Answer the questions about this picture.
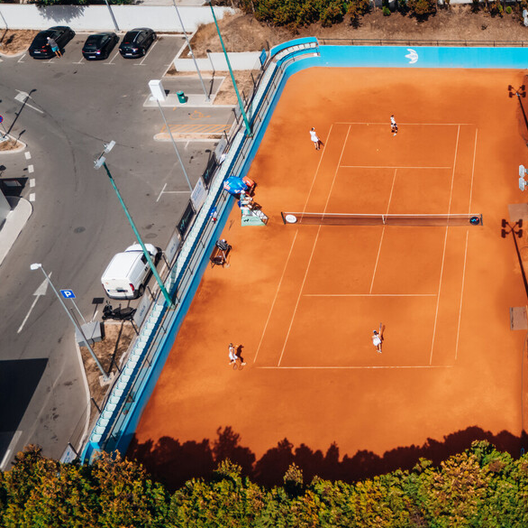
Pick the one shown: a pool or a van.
van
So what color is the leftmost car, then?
black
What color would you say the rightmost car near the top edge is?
black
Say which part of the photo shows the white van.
left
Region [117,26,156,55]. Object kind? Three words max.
car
